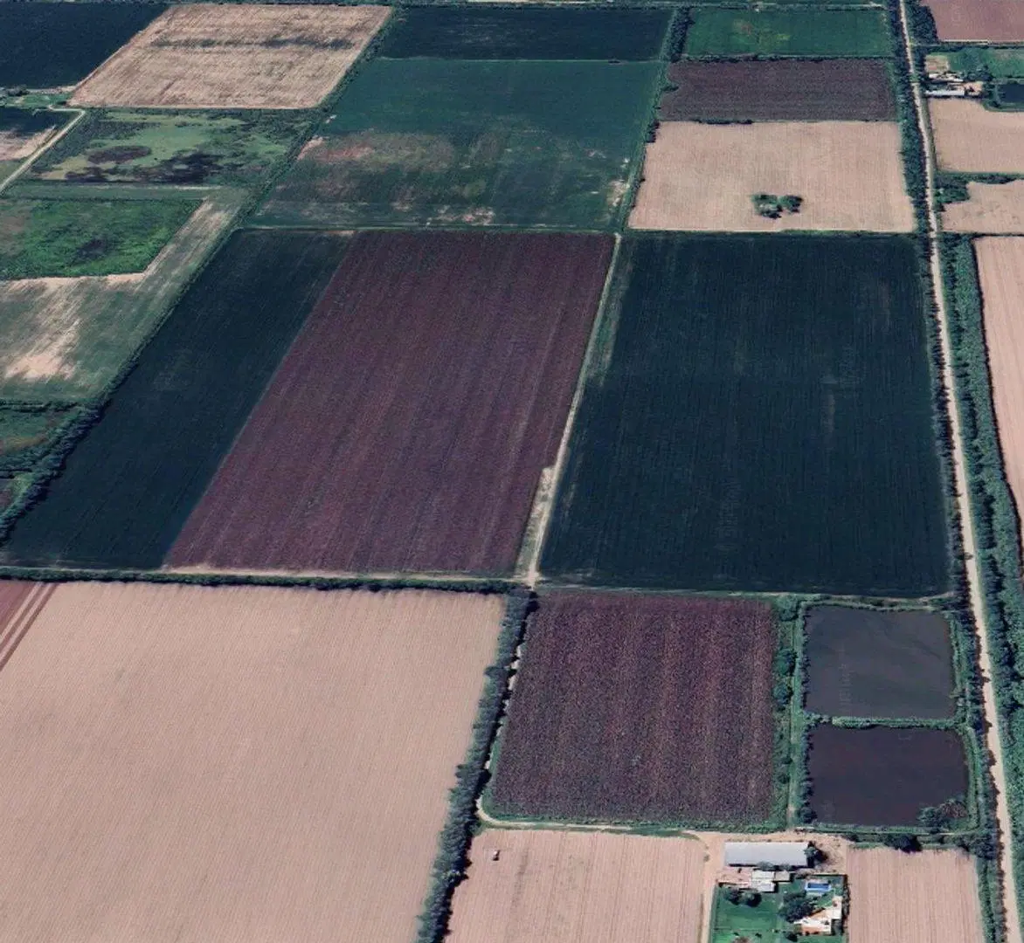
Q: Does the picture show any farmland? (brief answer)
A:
Yes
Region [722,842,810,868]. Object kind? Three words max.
shed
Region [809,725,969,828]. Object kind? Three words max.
pond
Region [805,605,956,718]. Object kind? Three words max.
pond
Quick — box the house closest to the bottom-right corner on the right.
[795,897,844,941]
